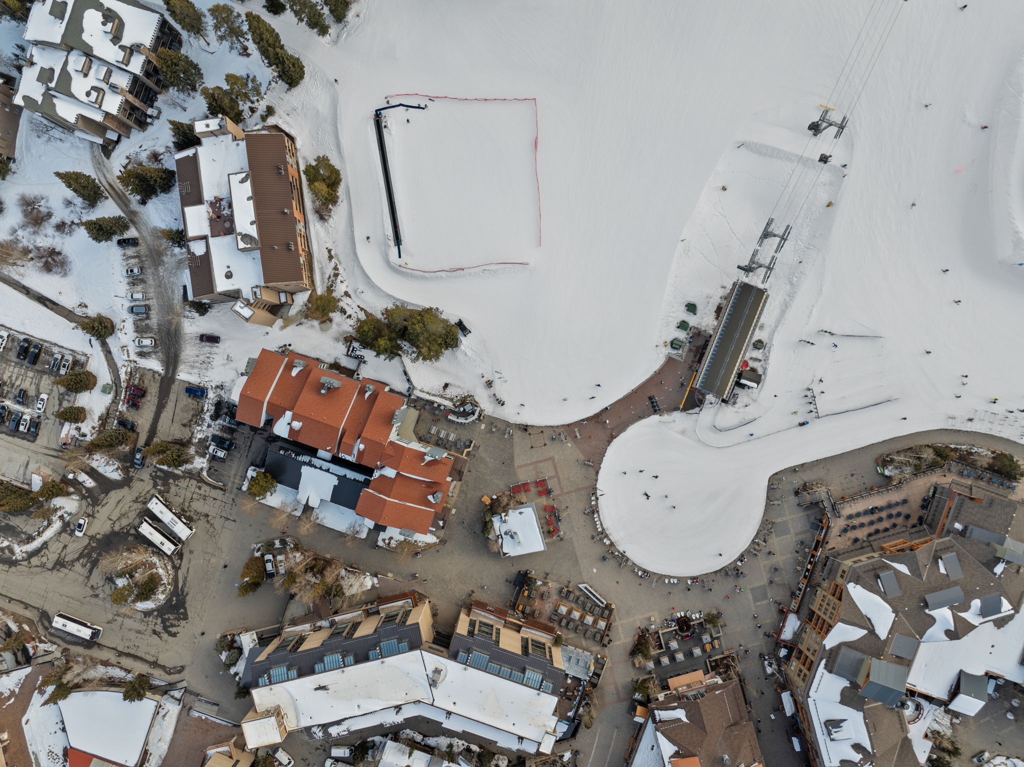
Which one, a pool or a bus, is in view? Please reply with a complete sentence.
The image shows a bus.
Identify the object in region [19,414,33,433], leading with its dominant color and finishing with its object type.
white car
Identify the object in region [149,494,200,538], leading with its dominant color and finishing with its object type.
white bus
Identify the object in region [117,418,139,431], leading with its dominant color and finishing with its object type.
black vehicle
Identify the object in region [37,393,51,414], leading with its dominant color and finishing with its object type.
white car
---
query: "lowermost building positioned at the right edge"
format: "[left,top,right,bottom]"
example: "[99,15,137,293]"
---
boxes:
[773,480,1024,767]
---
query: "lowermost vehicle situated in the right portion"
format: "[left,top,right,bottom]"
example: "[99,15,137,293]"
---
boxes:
[969,747,991,765]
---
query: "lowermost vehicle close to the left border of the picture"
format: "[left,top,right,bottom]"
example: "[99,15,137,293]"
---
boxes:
[49,612,108,642]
